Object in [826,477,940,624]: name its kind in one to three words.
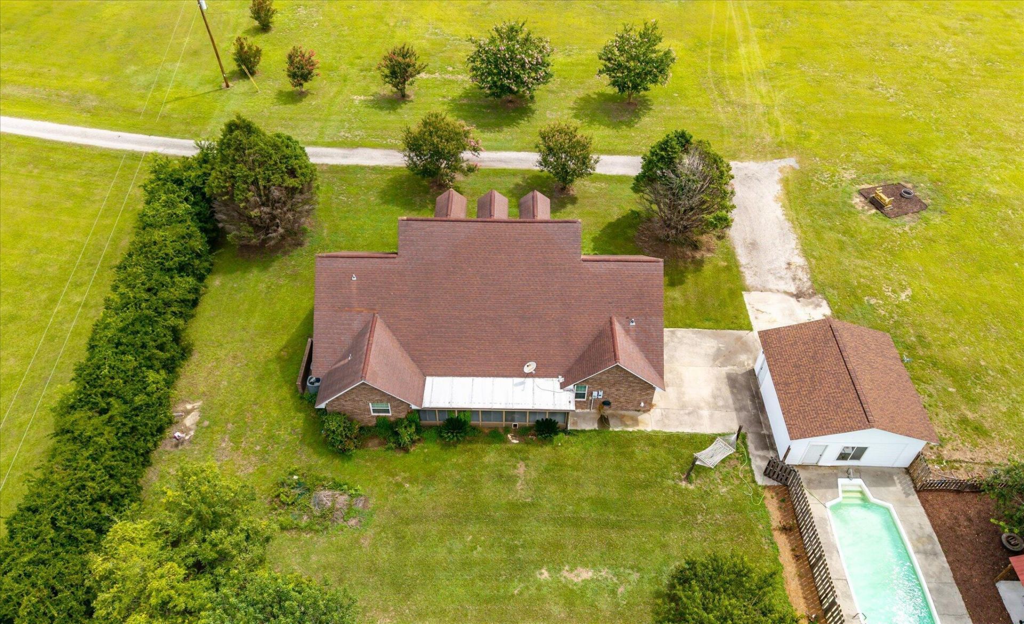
swimming pool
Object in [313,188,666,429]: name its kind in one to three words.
house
